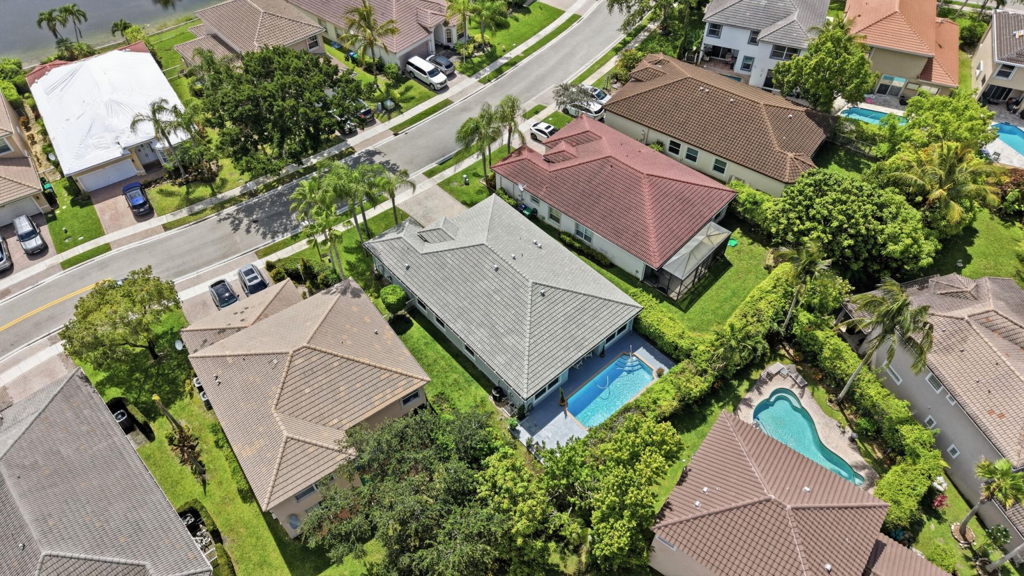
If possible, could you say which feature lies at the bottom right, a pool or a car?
pool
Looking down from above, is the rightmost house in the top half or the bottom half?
top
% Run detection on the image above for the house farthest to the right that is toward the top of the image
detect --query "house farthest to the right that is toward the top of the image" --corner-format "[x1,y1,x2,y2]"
[972,7,1024,117]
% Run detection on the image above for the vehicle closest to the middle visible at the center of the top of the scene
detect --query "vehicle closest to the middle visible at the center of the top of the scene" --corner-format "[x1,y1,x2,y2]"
[521,121,557,143]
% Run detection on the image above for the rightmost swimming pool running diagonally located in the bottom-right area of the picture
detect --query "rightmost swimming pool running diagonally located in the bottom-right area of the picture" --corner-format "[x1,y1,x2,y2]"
[753,386,866,486]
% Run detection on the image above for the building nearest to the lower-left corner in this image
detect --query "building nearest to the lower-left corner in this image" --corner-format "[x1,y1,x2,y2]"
[0,366,211,576]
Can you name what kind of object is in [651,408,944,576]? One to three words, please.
house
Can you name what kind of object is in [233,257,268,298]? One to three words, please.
car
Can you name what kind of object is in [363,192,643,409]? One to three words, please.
house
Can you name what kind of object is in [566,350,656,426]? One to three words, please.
swimming pool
